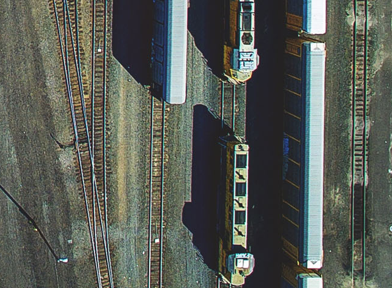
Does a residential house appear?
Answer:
No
